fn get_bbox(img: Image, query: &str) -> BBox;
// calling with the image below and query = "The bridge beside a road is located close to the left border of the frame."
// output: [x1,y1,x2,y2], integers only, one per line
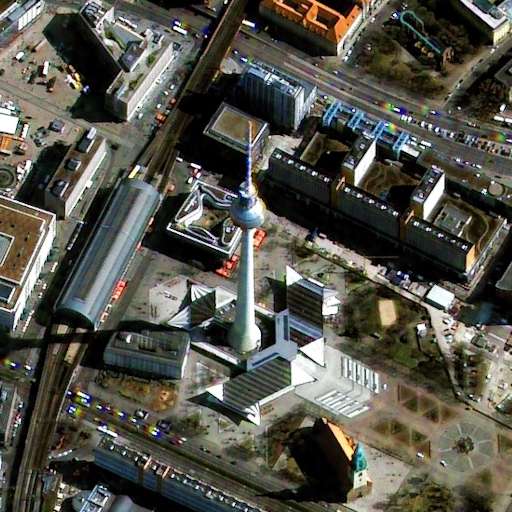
[11,318,94,512]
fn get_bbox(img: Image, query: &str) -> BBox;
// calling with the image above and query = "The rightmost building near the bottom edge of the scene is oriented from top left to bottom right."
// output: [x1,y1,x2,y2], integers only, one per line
[312,418,376,507]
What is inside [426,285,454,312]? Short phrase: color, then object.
white tent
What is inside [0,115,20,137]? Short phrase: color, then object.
white tent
